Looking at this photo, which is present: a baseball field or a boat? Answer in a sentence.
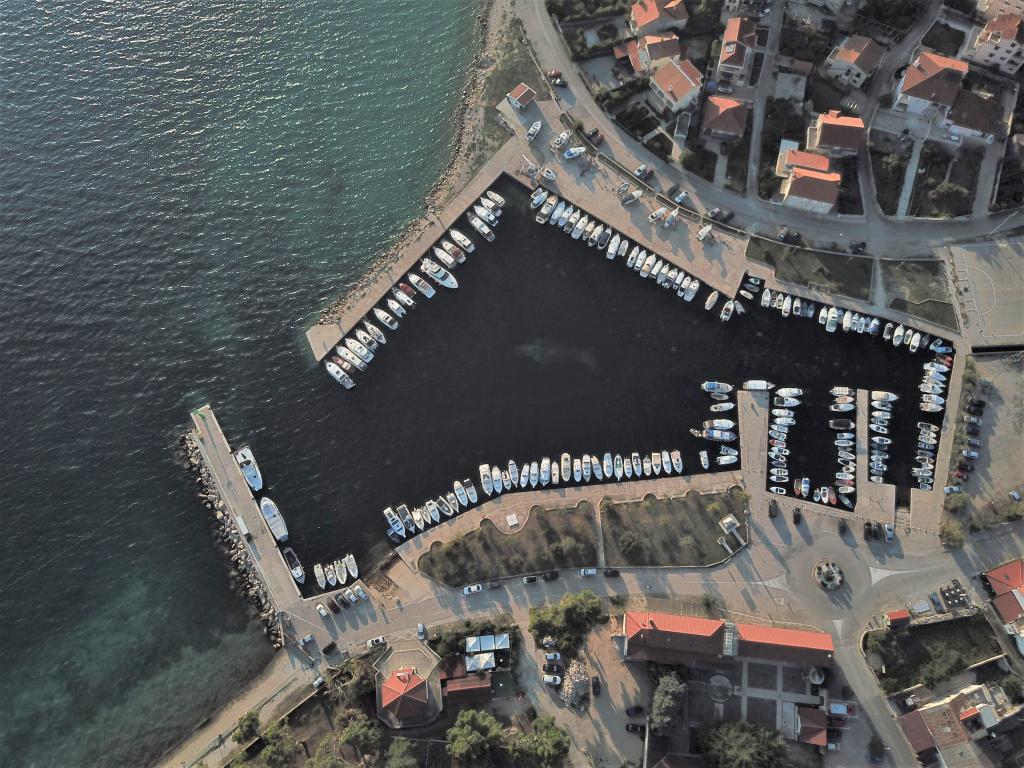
The one in the frame is a boat.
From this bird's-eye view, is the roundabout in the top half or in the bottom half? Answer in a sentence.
The roundabout is in the bottom half of the image.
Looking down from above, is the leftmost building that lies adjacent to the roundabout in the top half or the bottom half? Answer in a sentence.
The leftmost building that lies adjacent to the roundabout is in the bottom half of the image.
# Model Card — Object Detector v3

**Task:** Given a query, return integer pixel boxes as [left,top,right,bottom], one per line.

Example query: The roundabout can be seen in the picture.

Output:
[754,530,905,638]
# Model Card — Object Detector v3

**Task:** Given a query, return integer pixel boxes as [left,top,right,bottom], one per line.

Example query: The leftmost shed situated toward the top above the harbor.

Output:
[509,82,537,107]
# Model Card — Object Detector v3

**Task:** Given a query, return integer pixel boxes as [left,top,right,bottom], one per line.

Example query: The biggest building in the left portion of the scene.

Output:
[373,640,443,729]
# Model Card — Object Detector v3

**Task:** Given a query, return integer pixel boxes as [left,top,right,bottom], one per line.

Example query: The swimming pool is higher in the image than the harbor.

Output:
[584,28,600,48]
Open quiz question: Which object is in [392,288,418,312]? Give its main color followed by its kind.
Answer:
white boat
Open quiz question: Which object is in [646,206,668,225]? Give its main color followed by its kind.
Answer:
white boat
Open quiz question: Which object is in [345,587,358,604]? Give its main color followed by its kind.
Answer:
white vehicle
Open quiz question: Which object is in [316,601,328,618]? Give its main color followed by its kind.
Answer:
white vehicle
